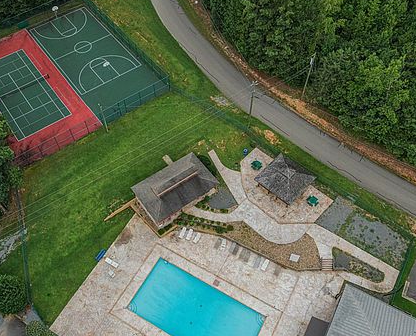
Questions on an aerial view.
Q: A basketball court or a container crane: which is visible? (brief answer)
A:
basketball court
